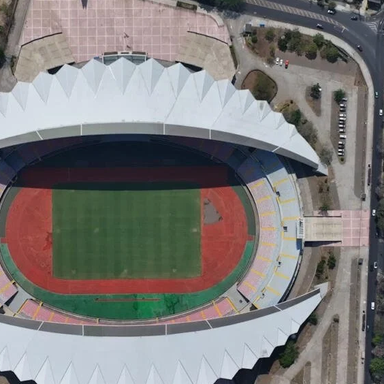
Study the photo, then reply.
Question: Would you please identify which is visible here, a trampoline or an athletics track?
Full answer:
It is an athletics track that can be seen here.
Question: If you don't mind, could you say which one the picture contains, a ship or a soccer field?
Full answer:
It is a soccer field that can be seen here.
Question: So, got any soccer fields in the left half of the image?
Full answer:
Yes, a soccer field can be seen in the left half of the image.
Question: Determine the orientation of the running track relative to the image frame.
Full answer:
The running track runs from left to right in the image.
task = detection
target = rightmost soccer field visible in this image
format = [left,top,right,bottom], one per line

[53,183,201,279]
